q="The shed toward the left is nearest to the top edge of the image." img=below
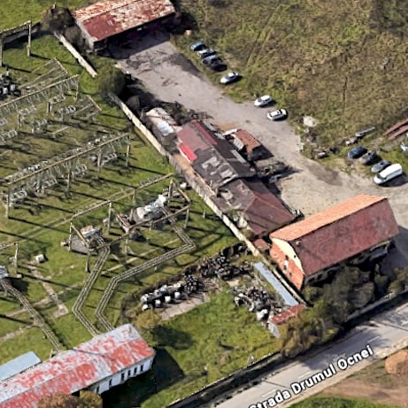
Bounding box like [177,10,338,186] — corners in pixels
[73,0,175,54]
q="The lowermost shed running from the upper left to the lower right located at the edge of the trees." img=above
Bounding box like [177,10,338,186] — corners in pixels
[253,263,298,314]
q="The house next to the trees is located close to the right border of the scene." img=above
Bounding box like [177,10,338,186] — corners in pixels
[269,195,399,288]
